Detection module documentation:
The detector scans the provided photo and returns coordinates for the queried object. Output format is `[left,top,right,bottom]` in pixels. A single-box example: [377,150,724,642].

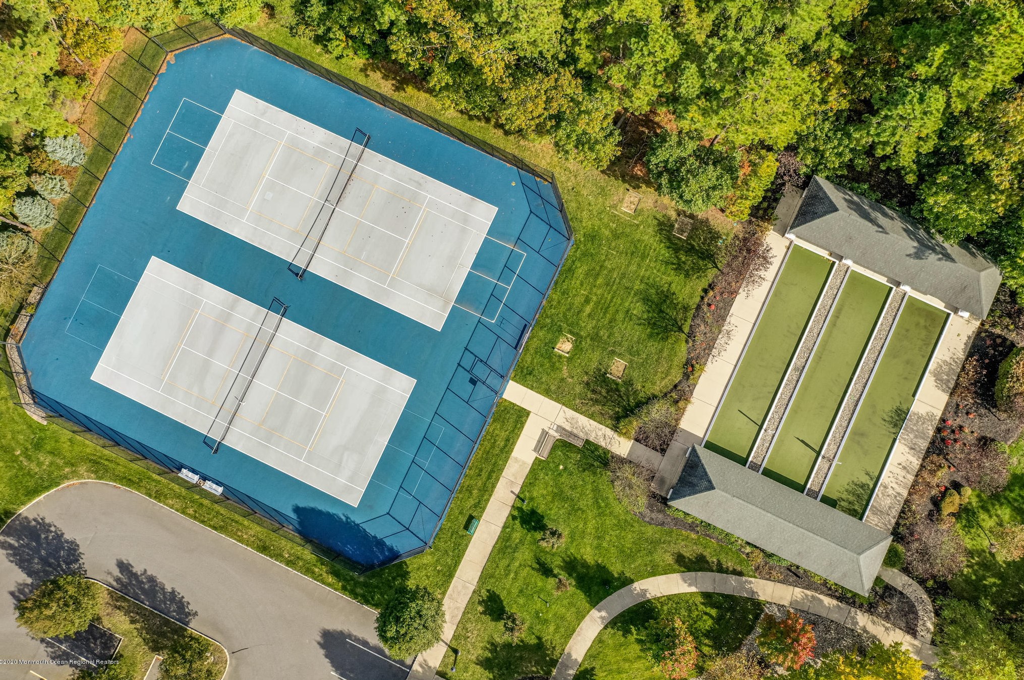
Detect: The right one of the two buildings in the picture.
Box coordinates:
[783,175,1005,320]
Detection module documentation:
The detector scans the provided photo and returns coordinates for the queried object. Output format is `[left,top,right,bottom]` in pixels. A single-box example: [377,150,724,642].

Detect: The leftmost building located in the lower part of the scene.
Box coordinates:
[666,444,892,597]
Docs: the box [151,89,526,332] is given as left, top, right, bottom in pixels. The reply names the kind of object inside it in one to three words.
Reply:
tennis court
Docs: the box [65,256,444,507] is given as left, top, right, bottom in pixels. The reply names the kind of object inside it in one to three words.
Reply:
tennis court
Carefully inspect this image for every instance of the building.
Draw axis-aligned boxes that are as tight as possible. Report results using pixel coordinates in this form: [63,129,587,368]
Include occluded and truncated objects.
[666,444,892,597]
[783,175,1005,320]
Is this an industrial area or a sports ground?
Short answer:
sports ground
